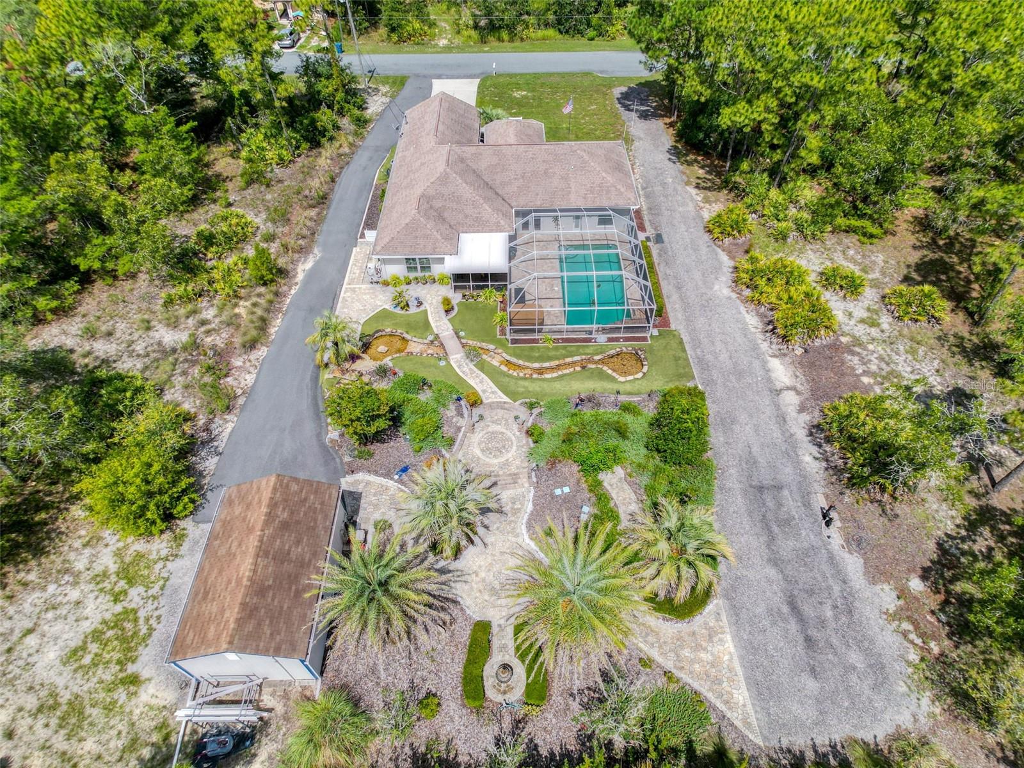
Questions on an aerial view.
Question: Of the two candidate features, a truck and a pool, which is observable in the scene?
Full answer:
This aerial view contains a pool.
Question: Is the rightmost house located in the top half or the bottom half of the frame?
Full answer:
It is in the top half that the rightmost house appears.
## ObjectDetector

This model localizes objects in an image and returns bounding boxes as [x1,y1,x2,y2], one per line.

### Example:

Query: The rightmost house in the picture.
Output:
[367,95,642,281]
